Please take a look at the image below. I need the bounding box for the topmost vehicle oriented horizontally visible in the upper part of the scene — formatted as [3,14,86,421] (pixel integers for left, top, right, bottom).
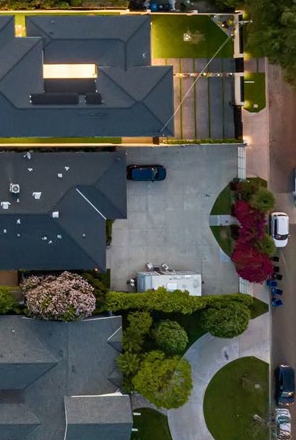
[126,162,166,182]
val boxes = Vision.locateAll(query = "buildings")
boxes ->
[0,311,141,440]
[0,151,127,271]
[0,14,174,140]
